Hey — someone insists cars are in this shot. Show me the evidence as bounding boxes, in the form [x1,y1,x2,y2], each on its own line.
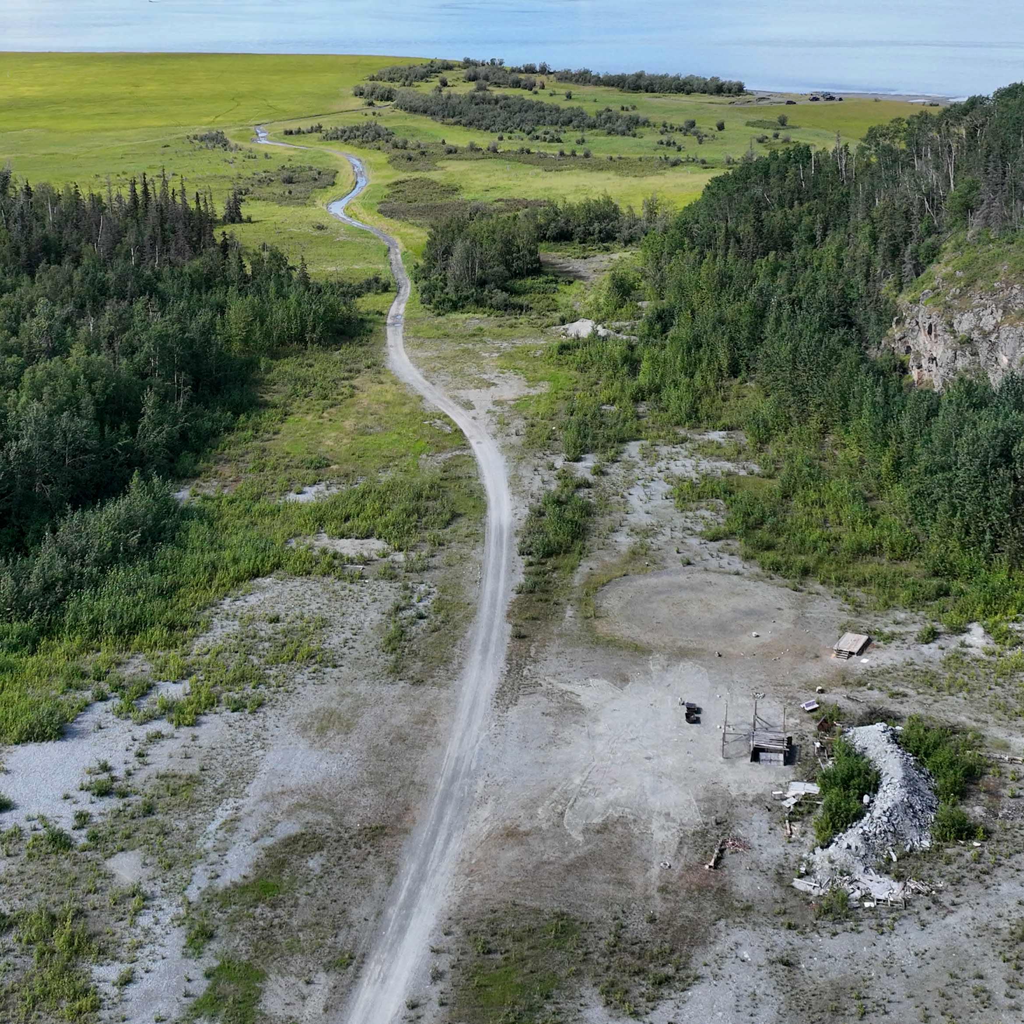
[819,92,832,97]
[809,96,821,101]
[785,99,797,104]
[824,95,837,100]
